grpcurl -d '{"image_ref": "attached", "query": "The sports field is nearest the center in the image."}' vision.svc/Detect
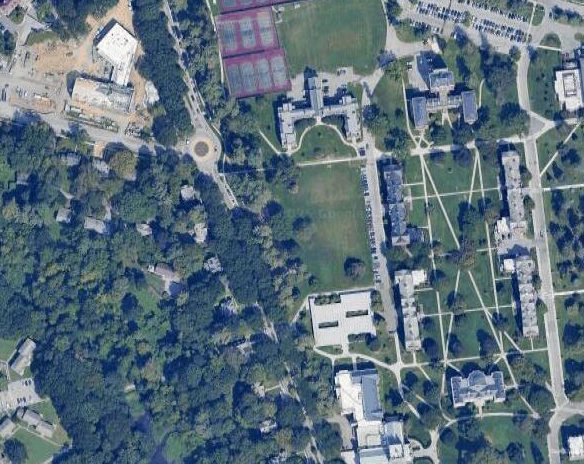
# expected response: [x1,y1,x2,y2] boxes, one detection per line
[275,159,382,294]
